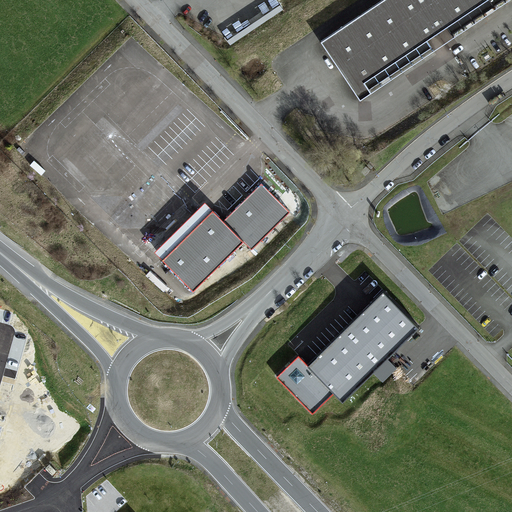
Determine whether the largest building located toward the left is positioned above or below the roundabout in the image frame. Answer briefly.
above it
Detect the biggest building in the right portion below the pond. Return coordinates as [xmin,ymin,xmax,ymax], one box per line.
[308,294,417,403]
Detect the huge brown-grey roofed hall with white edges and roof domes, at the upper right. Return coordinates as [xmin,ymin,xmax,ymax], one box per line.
[322,0,511,101]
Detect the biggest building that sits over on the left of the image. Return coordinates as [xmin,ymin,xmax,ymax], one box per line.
[154,204,243,292]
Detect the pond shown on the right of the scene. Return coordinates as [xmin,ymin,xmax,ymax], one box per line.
[382,184,446,246]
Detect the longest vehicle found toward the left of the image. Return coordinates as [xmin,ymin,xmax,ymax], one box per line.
[147,271,168,292]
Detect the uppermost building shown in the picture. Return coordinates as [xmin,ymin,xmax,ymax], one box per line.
[224,0,283,46]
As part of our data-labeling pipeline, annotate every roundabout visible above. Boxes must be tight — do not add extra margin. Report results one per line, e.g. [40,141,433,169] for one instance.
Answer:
[107,328,232,452]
